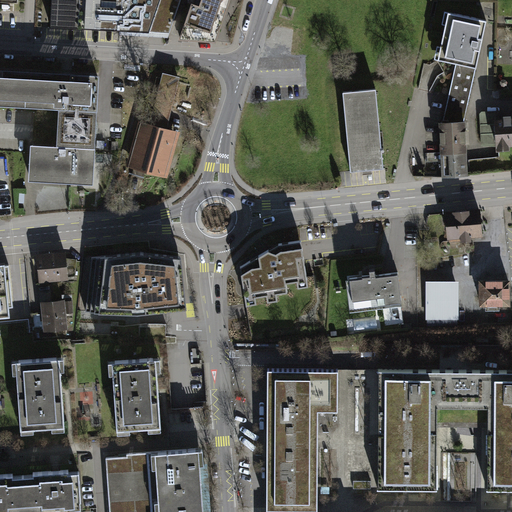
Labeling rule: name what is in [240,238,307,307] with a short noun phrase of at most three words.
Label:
building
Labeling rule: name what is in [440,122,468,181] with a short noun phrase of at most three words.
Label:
house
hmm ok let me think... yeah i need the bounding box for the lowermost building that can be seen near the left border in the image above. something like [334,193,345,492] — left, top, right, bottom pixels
[0,466,82,512]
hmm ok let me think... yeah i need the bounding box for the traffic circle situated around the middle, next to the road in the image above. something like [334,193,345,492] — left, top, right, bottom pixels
[164,172,262,266]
